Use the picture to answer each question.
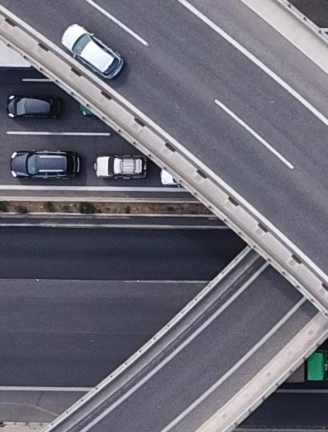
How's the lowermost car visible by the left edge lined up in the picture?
horizontally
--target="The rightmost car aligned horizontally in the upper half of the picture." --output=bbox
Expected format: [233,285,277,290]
[94,153,149,180]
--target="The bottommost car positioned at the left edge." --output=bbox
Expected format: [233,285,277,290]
[11,148,81,180]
